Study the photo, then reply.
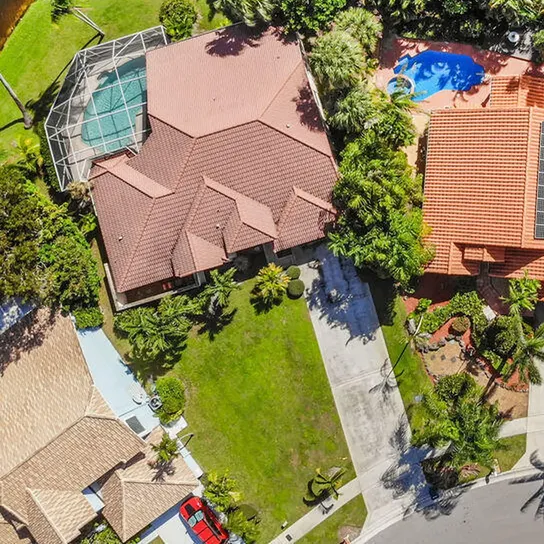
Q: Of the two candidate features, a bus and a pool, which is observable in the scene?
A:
pool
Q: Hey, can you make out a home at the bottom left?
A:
Yes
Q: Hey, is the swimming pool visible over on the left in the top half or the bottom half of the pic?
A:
top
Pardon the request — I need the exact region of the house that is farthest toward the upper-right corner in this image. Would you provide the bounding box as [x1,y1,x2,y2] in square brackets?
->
[423,75,544,303]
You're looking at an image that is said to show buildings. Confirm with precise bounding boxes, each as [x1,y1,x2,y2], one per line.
[0,309,204,544]
[423,75,544,303]
[87,9,338,313]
